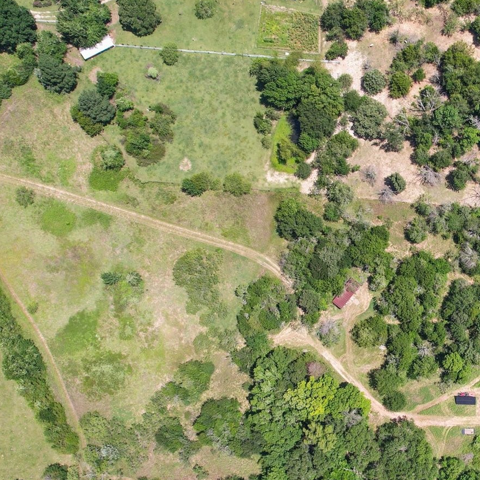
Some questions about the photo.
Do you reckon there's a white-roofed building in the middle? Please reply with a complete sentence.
No, I can find no white-roofed building in the middle.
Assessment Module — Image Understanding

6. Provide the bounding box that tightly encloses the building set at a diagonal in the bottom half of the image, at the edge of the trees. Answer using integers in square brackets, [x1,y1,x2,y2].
[332,279,362,312]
